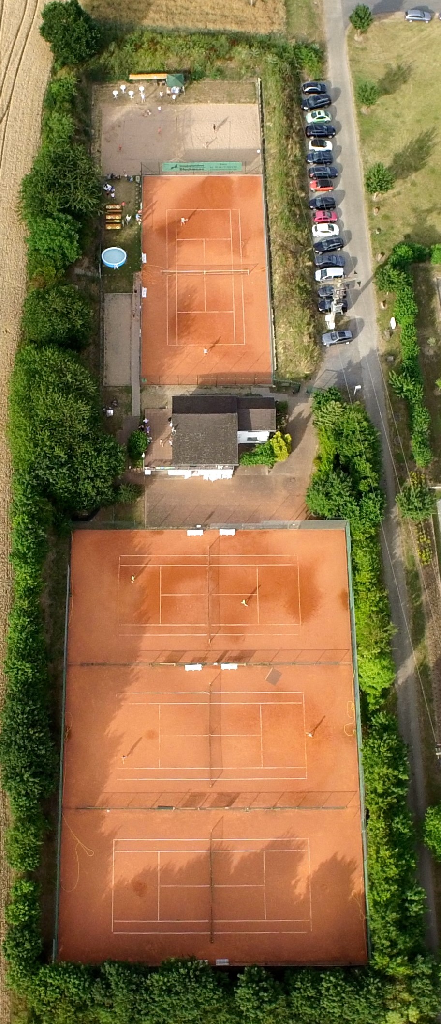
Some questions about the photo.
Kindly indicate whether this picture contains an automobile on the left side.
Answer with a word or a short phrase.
No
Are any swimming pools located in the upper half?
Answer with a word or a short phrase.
Yes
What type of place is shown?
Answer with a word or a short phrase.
sports ground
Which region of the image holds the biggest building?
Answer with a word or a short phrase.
center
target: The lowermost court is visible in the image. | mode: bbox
[55,808,373,967]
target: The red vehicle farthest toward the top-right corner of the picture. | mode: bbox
[309,179,334,193]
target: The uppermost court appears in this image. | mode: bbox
[101,102,263,174]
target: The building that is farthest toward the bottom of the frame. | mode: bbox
[145,395,278,480]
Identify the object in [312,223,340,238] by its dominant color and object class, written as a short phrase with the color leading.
white car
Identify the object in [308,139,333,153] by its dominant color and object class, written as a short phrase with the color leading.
white car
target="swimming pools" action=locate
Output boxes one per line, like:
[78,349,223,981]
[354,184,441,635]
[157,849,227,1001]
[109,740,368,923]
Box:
[101,246,127,272]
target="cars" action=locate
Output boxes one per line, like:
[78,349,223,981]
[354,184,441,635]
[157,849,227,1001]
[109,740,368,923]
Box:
[306,151,333,166]
[314,237,345,255]
[314,210,338,225]
[315,267,345,283]
[315,254,345,269]
[302,82,327,95]
[302,93,333,112]
[309,197,337,211]
[317,285,347,300]
[312,223,340,238]
[321,331,354,347]
[309,179,334,193]
[308,165,338,181]
[405,9,432,24]
[308,139,333,153]
[306,123,336,139]
[306,111,332,125]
